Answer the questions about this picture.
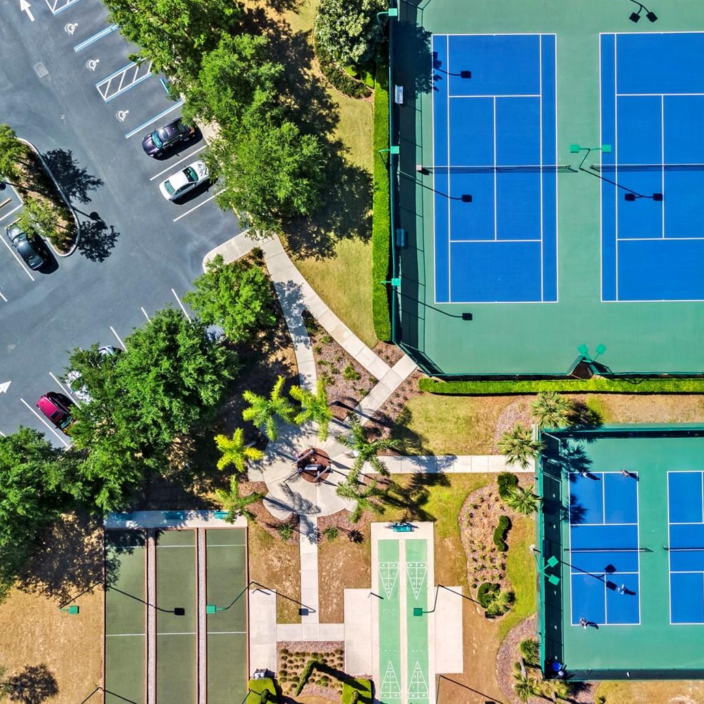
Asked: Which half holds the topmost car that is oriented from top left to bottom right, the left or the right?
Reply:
left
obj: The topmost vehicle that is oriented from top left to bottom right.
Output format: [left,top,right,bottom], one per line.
[2,221,47,273]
